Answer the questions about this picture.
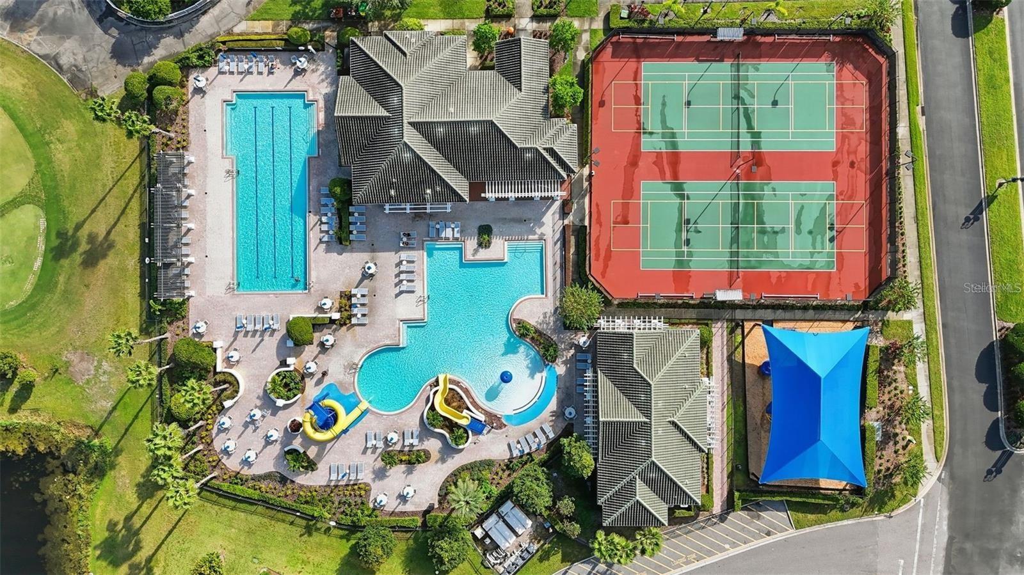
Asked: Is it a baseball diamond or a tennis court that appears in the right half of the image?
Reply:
tennis court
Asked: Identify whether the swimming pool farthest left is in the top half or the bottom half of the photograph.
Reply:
top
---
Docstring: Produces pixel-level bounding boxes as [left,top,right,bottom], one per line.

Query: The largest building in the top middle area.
[329,29,578,204]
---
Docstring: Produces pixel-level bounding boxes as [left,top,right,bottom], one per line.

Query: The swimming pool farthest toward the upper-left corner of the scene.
[222,89,321,296]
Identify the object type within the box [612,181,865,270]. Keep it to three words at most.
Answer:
tennis court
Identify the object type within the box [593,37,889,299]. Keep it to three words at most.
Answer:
sports court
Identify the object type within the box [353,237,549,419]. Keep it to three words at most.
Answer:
swimming pool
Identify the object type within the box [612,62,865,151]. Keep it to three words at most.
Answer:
tennis court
